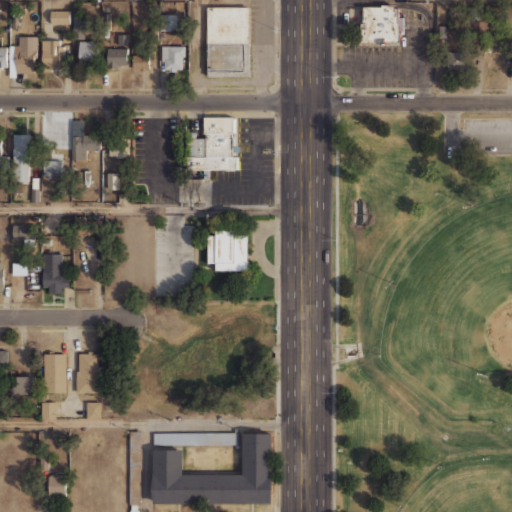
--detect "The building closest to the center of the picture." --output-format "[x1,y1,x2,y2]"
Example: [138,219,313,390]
[208,229,248,272]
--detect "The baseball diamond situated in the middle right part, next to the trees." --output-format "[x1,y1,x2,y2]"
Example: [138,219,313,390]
[380,195,512,426]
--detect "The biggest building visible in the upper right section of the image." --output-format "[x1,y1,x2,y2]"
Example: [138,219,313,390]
[361,4,401,47]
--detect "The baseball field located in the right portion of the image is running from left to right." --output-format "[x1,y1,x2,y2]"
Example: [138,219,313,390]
[398,458,512,512]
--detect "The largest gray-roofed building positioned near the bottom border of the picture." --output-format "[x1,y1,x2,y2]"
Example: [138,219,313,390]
[152,435,270,504]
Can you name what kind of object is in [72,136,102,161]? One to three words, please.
house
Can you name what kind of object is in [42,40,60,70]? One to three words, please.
house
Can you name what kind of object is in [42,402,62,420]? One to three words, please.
building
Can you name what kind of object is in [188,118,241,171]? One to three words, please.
building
